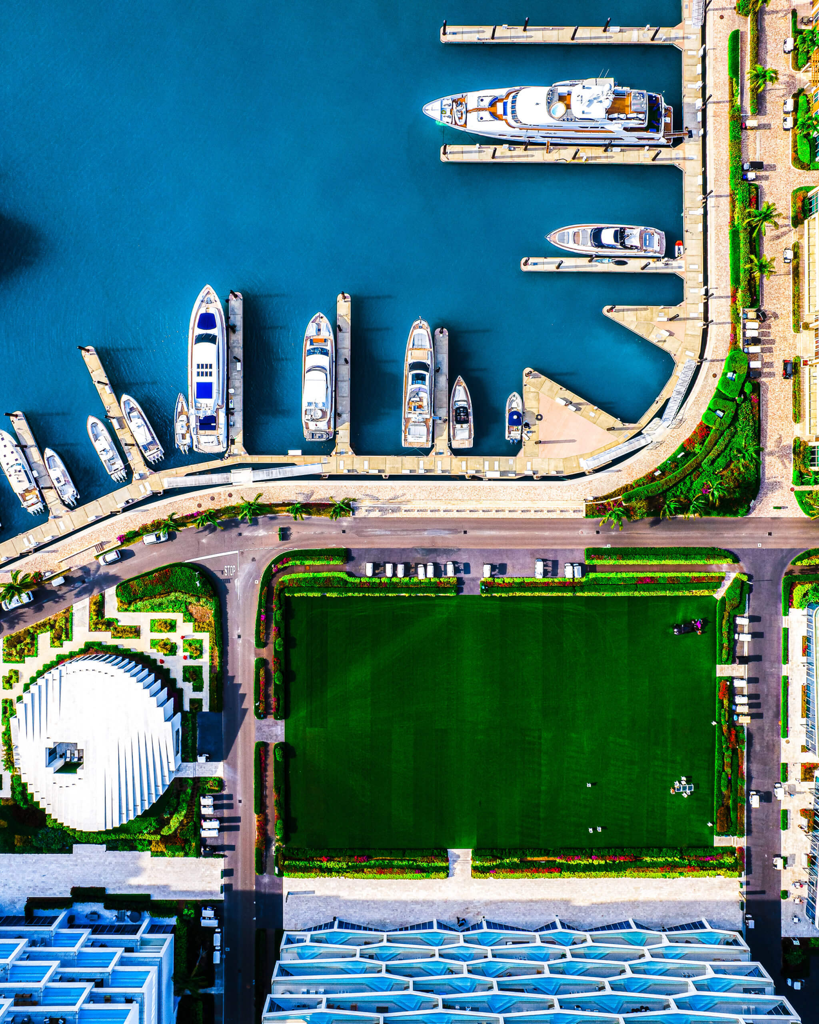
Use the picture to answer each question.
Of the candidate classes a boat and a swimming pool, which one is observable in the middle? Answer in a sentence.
It is a boat that can be seen in the middle.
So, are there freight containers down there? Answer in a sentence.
No, I find no freight container anywhere in the image.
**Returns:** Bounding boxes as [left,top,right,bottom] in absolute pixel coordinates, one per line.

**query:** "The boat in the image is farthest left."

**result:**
[0,427,46,519]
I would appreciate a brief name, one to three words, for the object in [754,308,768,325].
car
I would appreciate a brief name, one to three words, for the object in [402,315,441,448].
boat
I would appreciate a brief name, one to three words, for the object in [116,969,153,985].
swimming pool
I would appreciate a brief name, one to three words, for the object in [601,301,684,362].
pier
